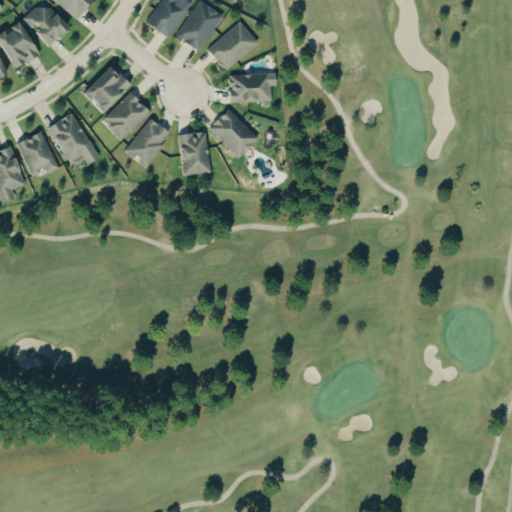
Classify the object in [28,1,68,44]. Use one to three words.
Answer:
house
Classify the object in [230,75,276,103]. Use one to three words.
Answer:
house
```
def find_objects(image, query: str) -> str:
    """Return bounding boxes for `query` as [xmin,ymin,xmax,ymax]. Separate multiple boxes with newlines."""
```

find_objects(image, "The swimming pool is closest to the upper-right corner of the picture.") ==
[244,54,276,73]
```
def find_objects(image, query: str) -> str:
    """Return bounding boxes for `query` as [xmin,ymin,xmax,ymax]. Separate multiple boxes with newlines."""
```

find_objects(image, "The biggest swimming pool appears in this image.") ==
[247,149,286,188]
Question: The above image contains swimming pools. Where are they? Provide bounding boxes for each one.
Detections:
[244,54,276,73]
[247,149,286,188]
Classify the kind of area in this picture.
golf course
